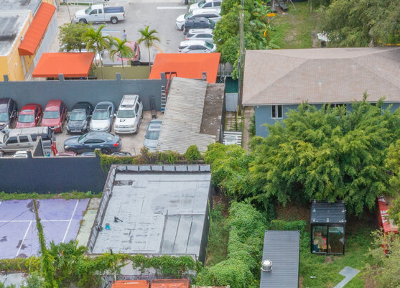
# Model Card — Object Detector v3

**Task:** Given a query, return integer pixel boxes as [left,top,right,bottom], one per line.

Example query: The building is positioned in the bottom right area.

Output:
[309,201,345,256]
